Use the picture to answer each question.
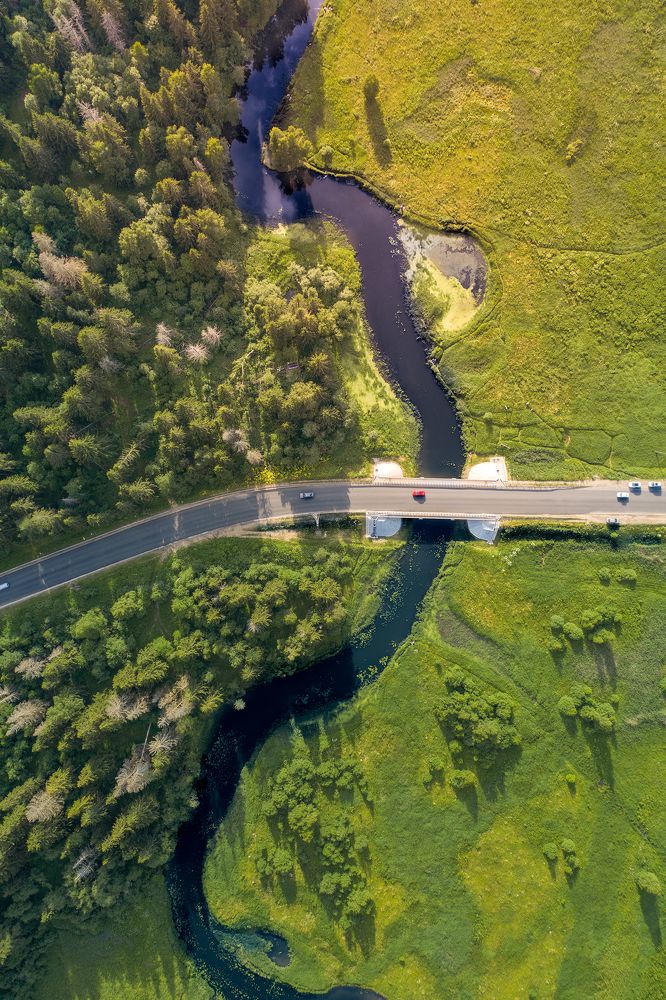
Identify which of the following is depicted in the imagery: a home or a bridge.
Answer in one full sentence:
The one in the frame is a bridge.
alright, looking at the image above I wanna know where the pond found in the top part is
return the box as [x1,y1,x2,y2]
[400,223,484,329]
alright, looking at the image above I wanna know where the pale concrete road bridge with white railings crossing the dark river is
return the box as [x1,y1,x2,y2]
[365,456,510,541]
